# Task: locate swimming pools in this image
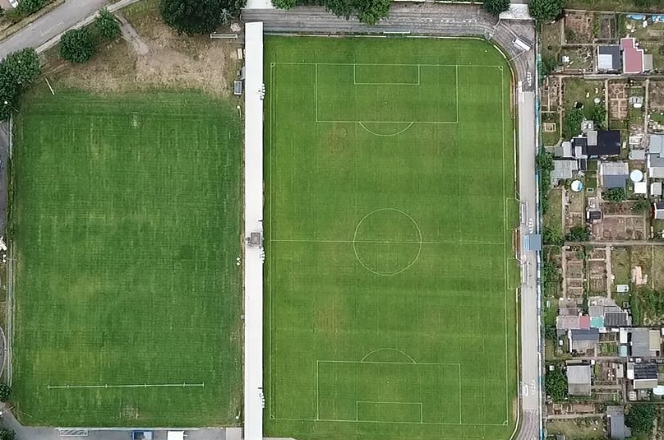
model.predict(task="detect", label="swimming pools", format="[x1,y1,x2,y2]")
[630,169,643,181]
[653,384,664,394]
[570,180,583,191]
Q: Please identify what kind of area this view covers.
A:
sports ground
